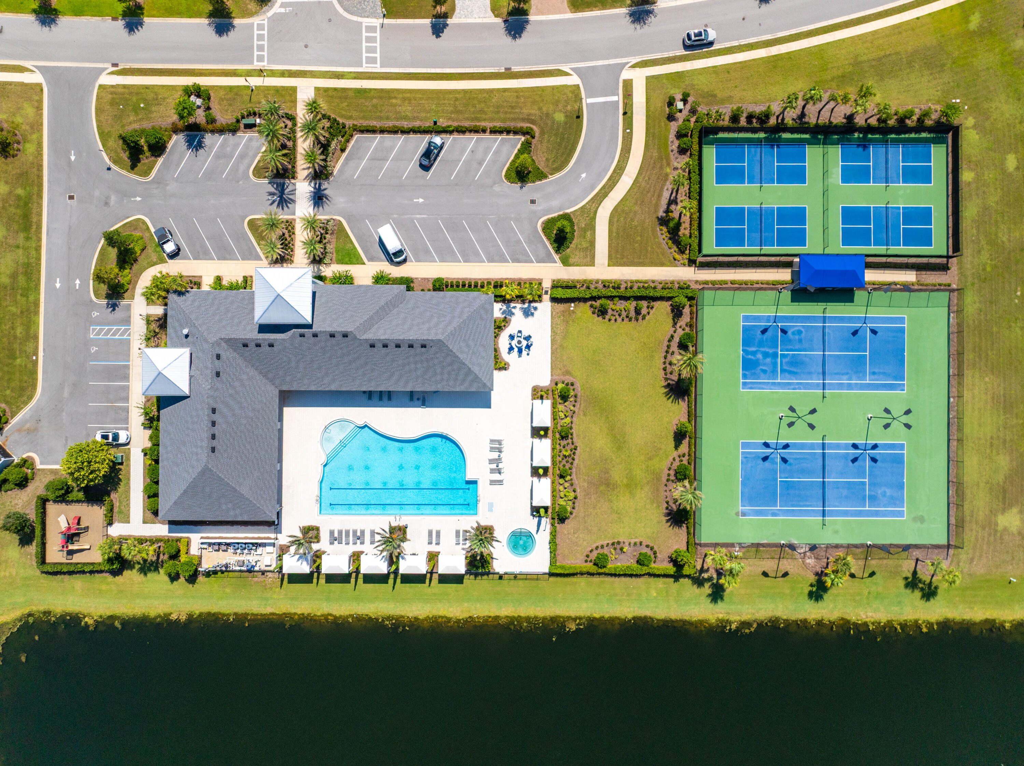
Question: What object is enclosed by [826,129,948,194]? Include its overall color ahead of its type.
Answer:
blue sports court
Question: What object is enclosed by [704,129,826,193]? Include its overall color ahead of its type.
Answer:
blue sports court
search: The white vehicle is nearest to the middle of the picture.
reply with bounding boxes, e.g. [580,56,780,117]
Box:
[377,222,407,265]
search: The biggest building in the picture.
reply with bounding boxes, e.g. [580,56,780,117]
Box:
[141,267,494,521]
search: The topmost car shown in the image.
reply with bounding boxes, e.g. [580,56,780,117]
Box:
[684,26,718,48]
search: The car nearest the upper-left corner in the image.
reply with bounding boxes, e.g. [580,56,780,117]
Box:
[150,225,178,257]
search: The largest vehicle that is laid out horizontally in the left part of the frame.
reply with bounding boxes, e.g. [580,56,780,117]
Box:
[94,430,130,446]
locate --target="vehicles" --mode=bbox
[377,222,407,265]
[150,225,178,257]
[684,26,718,48]
[420,134,444,168]
[94,430,130,446]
